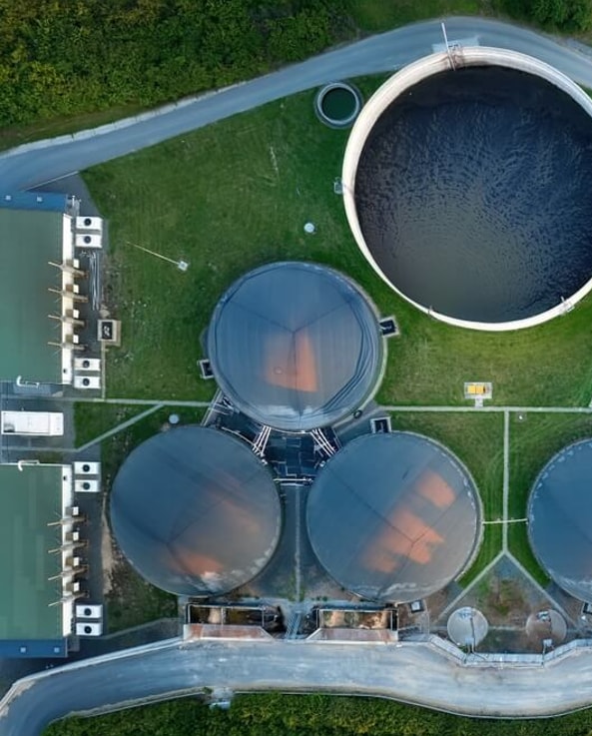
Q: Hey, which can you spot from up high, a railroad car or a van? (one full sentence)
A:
There is a van in the scene.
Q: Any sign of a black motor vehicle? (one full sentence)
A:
No, I can see no black motor vehicle in this picture.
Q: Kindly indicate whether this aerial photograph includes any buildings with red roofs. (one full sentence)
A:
No, the photo shows no building with a red roof.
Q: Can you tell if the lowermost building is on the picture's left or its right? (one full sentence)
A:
You can find the lowermost building on the left side of the picture.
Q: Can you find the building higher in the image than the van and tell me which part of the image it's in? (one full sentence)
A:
The building higher in the image than the van sits in the left section of the image.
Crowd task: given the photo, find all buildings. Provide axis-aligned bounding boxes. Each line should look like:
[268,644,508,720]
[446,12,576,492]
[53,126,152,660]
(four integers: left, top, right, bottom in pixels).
[0,459,87,656]
[0,193,87,394]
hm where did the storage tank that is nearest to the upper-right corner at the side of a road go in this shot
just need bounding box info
[333,22,592,333]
